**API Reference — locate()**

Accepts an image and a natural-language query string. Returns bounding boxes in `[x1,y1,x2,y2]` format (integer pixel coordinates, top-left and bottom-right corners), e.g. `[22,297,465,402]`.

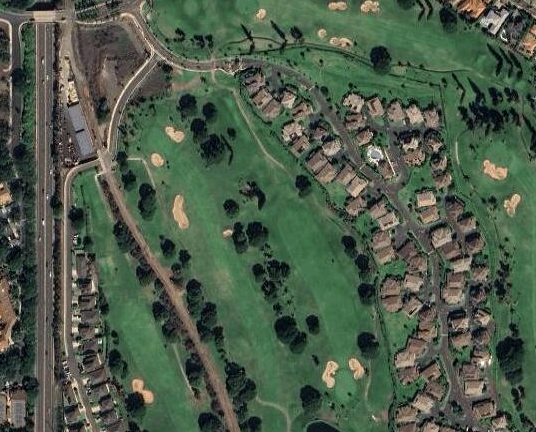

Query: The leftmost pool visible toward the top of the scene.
[367,146,383,161]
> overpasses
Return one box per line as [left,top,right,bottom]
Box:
[4,6,88,20]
